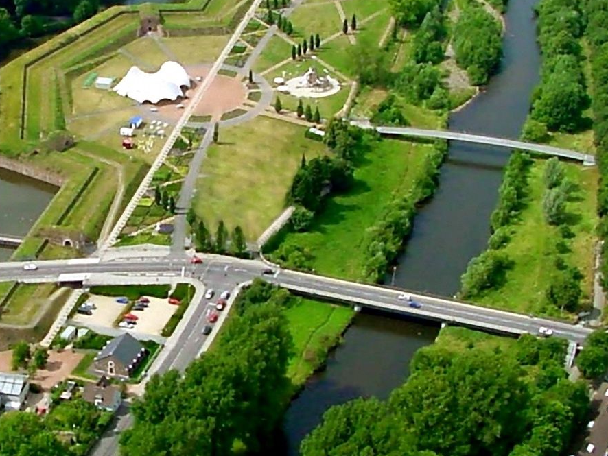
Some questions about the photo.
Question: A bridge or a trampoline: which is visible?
bridge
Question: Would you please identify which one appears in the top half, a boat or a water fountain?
water fountain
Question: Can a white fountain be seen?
Yes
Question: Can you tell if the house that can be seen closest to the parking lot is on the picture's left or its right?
left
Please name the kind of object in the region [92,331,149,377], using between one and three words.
house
